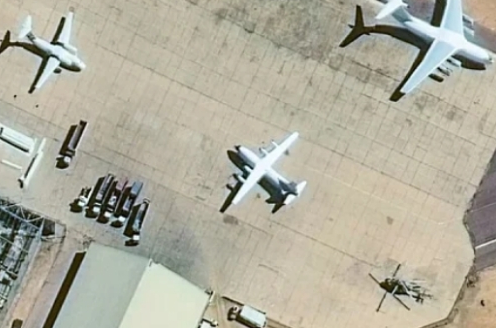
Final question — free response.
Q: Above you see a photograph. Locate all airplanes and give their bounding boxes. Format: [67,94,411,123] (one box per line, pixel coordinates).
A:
[376,0,493,90]
[230,129,307,208]
[18,12,84,89]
